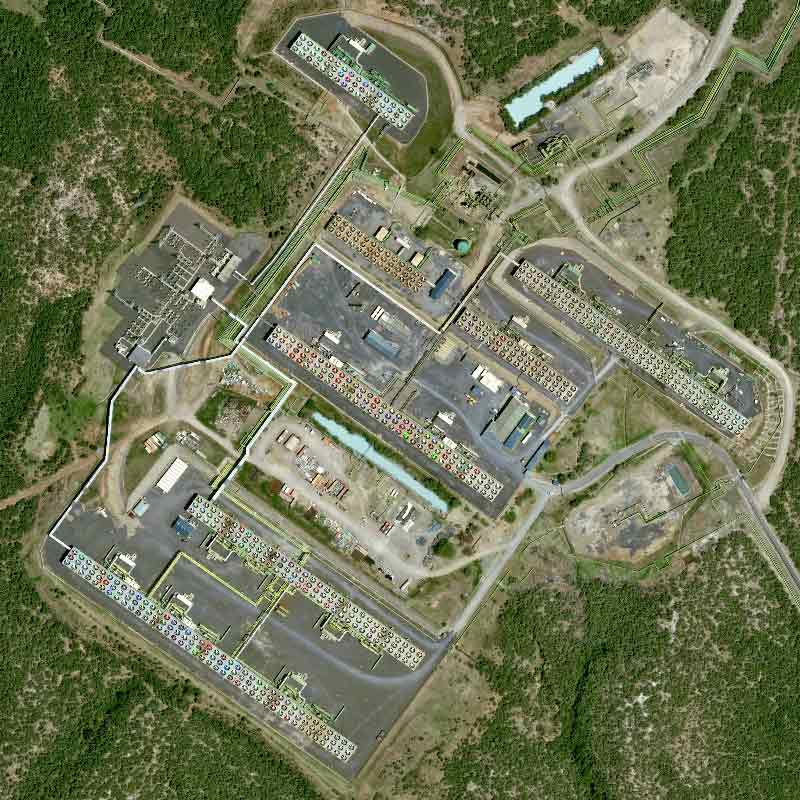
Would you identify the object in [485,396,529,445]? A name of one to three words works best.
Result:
building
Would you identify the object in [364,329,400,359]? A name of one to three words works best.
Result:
building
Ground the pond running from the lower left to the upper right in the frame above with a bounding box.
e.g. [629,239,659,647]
[504,44,602,130]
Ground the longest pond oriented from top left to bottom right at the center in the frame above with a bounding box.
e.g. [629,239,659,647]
[311,409,449,515]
